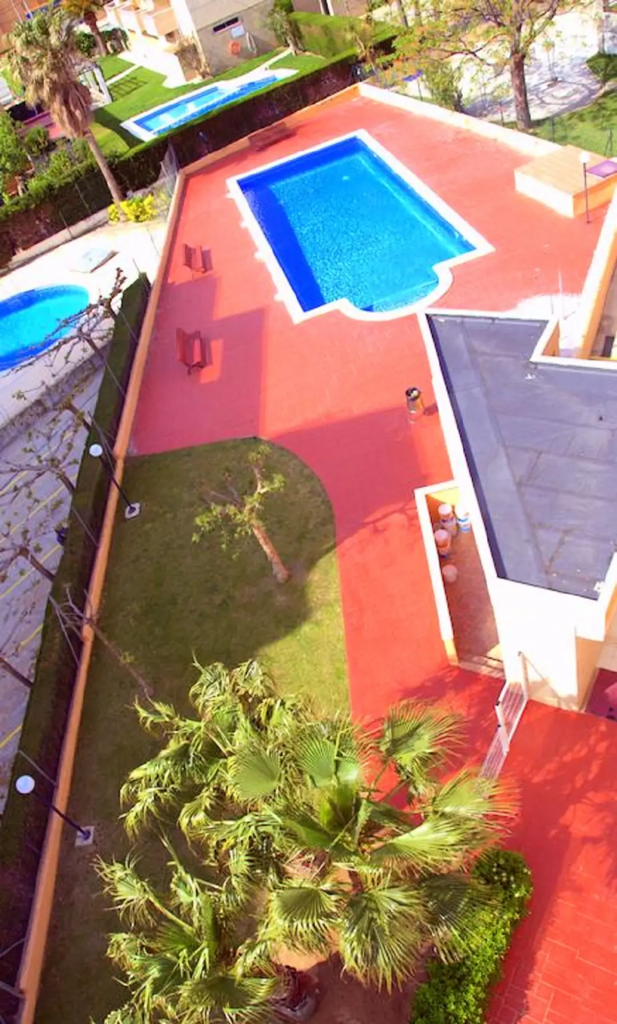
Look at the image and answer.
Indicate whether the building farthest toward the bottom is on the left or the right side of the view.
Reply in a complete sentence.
The building farthest toward the bottom sits on the right side.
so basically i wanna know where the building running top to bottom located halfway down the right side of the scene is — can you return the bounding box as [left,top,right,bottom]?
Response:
[417,312,617,708]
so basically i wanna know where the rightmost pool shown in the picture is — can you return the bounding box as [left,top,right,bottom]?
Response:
[227,130,494,323]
